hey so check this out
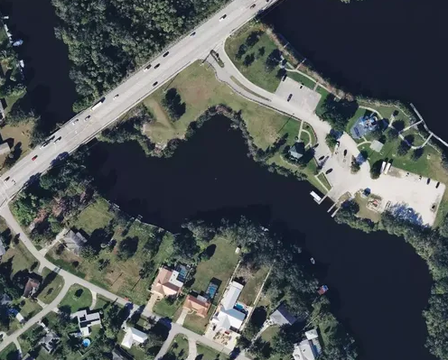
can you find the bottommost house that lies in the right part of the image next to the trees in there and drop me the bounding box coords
[290,329,319,360]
